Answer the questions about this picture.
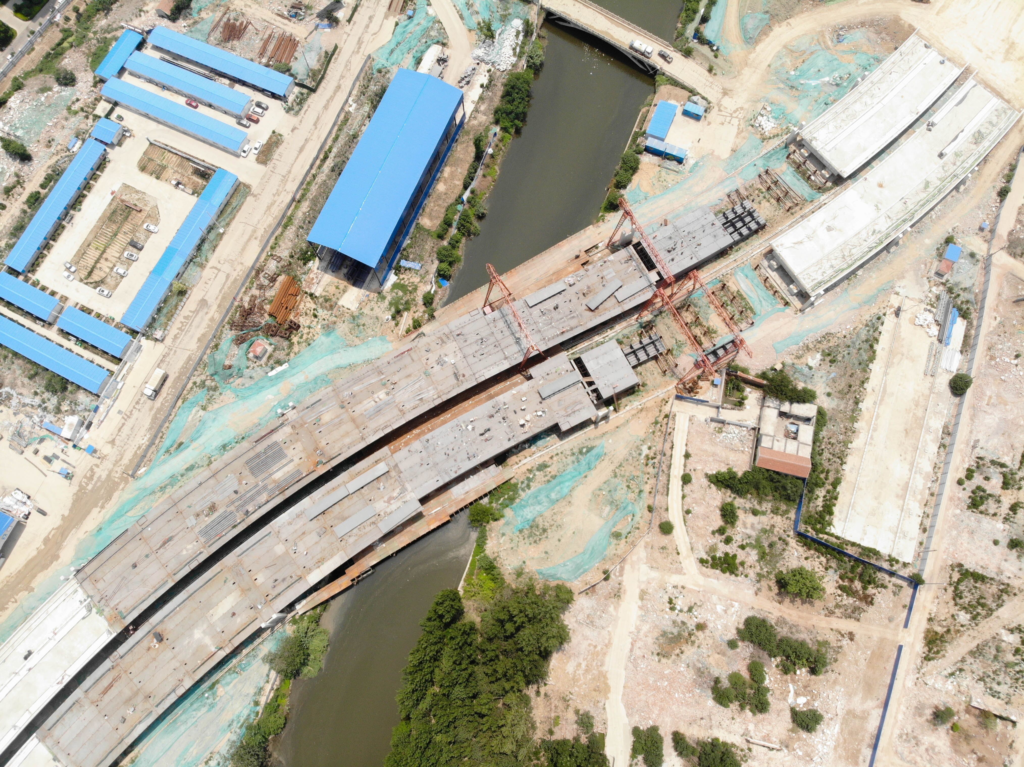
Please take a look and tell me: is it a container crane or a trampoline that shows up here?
container crane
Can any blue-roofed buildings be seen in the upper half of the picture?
Yes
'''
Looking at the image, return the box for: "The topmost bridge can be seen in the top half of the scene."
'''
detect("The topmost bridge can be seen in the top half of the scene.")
[530,0,709,92]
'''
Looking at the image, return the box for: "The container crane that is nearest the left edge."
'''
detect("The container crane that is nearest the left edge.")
[480,264,551,371]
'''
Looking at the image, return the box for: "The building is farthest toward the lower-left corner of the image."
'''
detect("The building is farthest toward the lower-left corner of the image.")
[0,507,31,569]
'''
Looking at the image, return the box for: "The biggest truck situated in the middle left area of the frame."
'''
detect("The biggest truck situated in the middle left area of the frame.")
[140,362,169,401]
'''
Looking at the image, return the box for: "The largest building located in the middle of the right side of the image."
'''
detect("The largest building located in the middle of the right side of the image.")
[754,396,818,479]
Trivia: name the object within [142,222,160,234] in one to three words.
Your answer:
vehicle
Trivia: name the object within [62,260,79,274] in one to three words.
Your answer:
car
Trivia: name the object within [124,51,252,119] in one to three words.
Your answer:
building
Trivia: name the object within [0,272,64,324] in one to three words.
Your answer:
building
